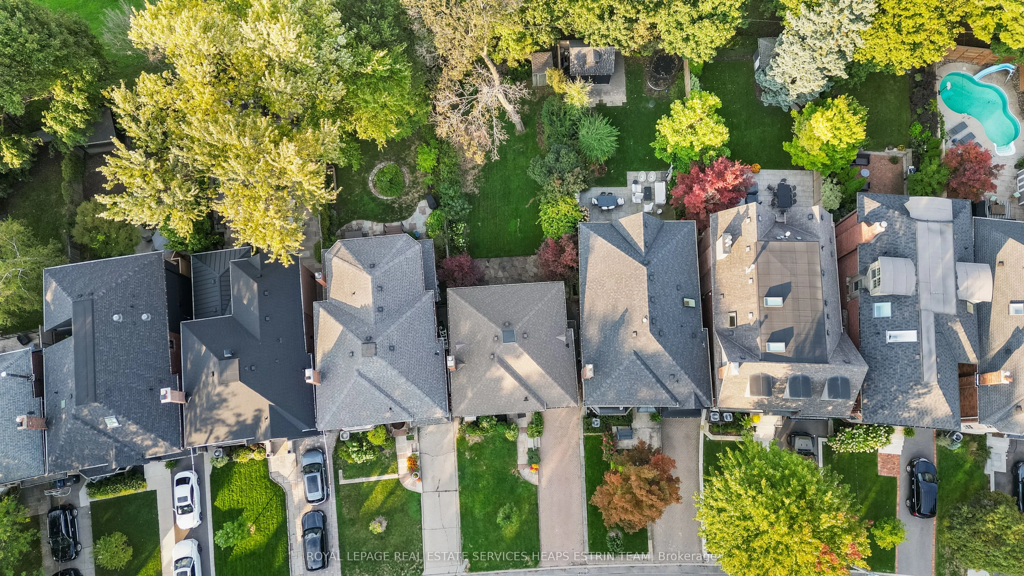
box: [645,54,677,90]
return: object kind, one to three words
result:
trampoline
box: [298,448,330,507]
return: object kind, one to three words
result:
car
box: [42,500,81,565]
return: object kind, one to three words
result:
car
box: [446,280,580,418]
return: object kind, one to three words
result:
house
